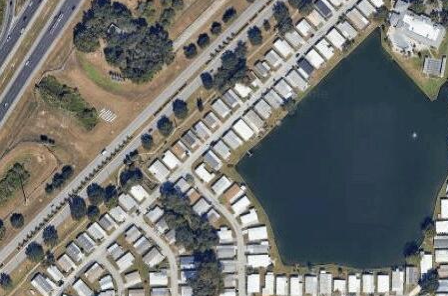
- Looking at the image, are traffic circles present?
No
